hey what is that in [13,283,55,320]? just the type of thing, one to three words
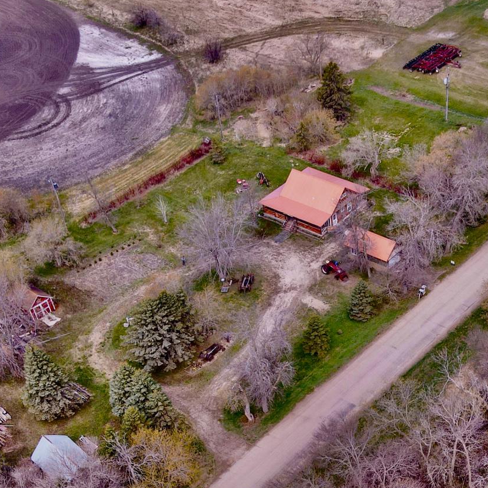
shed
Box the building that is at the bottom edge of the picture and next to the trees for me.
[30,434,102,488]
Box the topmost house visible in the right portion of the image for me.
[259,168,370,243]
